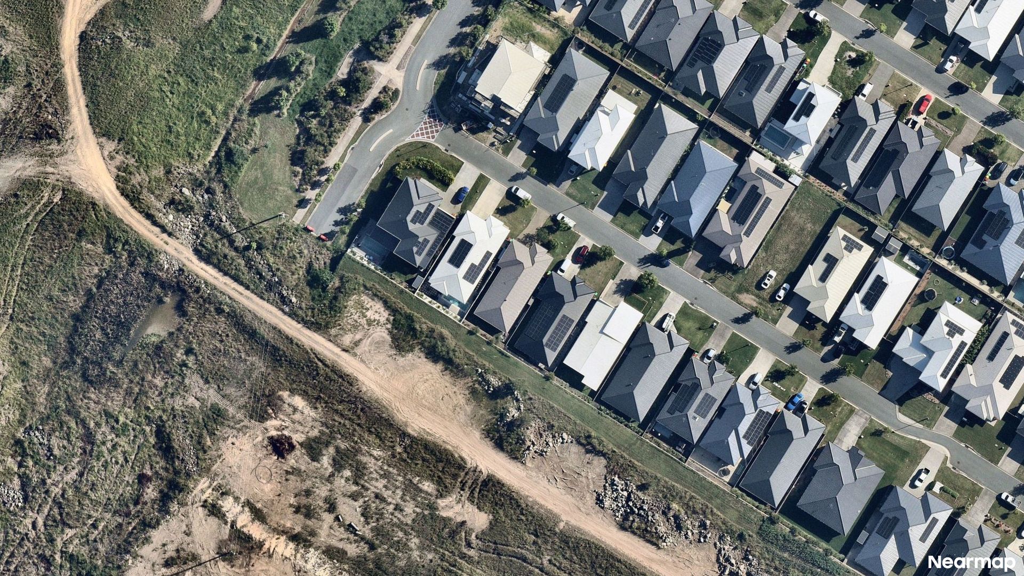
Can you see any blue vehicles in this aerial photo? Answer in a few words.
Yes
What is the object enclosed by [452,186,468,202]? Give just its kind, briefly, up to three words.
car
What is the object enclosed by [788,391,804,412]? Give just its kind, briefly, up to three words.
vehicle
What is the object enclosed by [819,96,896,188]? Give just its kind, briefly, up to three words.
house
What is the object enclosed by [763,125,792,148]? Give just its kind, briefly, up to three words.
swimming pool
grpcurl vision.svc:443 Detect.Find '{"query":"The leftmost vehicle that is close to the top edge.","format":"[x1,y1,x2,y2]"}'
[809,8,830,22]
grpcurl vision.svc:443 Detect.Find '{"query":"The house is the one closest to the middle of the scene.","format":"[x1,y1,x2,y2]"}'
[473,239,553,334]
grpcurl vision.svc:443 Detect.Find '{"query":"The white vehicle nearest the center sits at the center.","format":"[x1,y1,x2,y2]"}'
[557,257,572,277]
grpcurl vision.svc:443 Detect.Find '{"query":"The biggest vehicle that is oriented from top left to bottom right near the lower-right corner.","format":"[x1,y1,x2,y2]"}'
[1001,491,1022,509]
